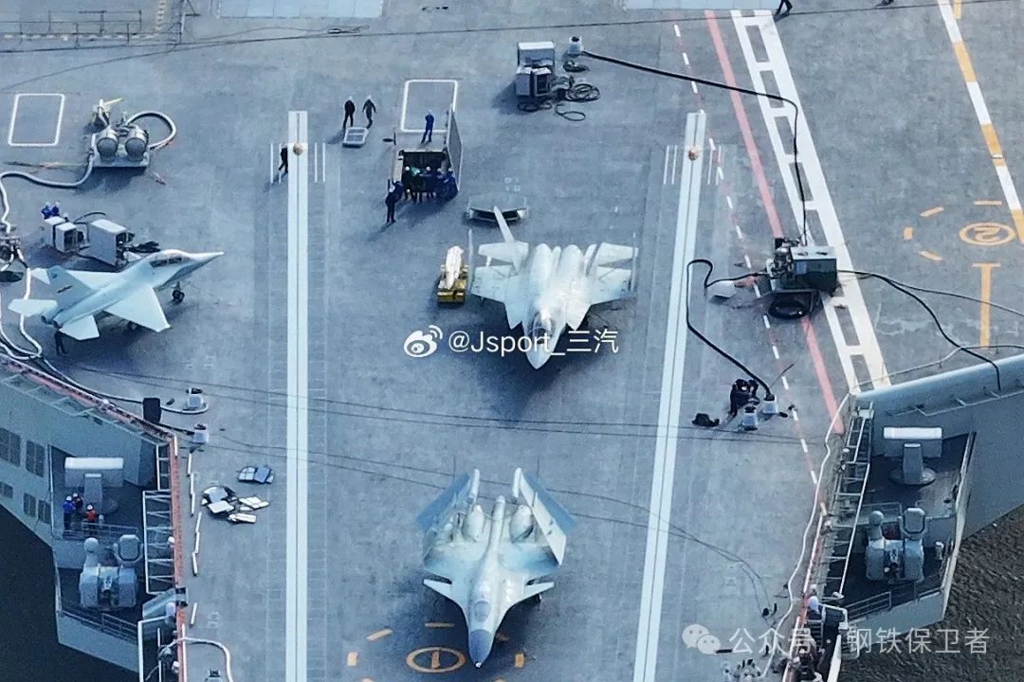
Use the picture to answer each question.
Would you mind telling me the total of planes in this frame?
three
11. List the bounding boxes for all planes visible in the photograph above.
[466,204,637,369]
[5,254,223,341]
[418,466,578,669]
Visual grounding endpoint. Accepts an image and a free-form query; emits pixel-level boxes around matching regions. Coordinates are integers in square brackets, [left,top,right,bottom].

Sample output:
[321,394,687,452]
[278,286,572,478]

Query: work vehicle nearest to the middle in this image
[466,193,527,219]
